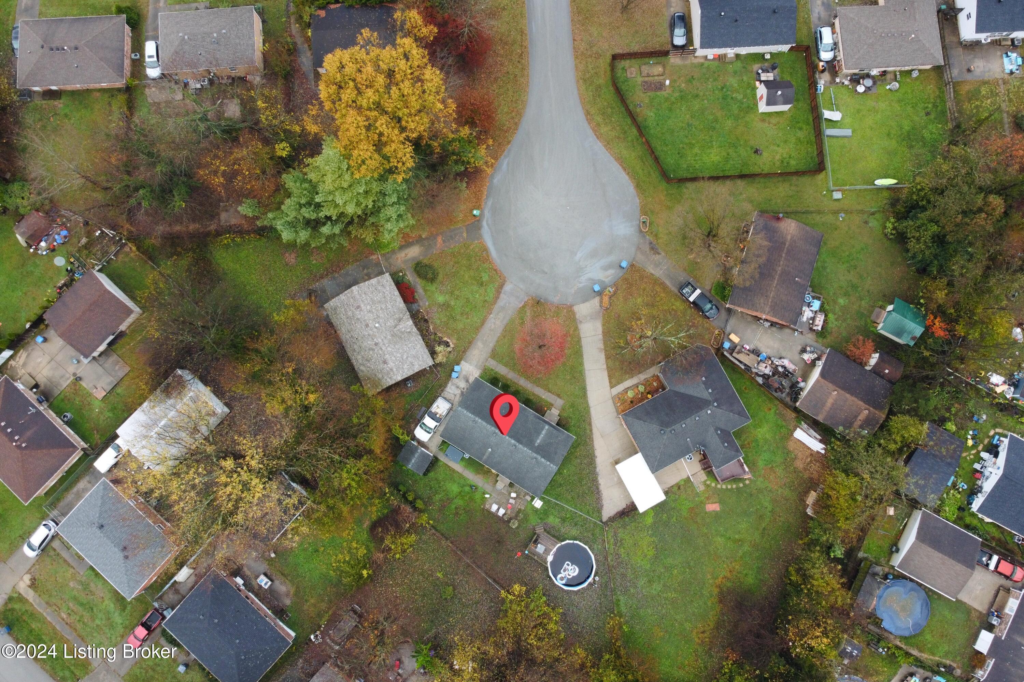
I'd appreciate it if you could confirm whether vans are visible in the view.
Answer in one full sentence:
Yes, the frame does contain a van.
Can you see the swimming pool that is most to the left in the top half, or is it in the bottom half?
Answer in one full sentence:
The swimming pool that is most to the left sits in the bottom half of the picture.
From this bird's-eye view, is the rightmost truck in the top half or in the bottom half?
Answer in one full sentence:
The rightmost truck sits in the bottom half of the picture.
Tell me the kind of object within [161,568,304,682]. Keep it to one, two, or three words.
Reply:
house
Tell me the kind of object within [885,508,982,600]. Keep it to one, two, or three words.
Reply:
building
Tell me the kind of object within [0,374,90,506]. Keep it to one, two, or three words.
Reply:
house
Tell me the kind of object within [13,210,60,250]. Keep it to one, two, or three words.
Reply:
shed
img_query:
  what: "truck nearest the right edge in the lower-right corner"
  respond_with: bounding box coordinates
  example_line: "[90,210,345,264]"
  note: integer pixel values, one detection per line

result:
[981,546,1024,584]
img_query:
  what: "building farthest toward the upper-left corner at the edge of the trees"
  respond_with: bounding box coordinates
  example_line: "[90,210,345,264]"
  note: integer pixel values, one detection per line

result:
[18,15,136,95]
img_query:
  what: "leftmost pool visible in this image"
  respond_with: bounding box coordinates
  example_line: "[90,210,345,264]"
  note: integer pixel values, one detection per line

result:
[546,539,595,589]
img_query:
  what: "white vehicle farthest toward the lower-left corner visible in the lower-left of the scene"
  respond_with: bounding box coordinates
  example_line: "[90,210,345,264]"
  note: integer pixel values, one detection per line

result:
[23,516,61,560]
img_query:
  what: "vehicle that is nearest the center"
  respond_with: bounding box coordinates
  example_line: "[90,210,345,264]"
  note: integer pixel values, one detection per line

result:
[413,393,456,445]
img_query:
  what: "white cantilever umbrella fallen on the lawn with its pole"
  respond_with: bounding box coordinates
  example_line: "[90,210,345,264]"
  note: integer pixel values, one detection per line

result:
[822,89,841,122]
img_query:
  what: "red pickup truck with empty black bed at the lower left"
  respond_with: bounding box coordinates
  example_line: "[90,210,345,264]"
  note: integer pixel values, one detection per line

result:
[125,602,166,652]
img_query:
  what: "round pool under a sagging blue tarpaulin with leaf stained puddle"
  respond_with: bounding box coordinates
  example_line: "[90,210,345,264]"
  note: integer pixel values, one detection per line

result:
[872,579,930,636]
